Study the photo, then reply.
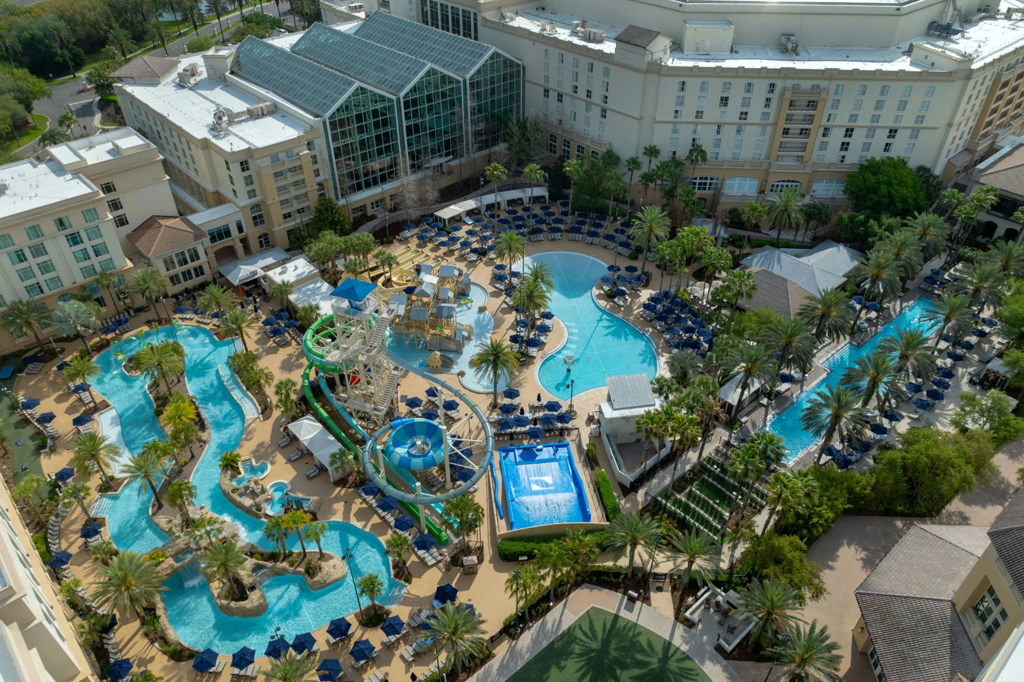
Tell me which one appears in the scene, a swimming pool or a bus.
swimming pool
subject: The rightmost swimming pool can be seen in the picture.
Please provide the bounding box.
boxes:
[770,297,943,465]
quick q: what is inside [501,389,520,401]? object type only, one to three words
umbrella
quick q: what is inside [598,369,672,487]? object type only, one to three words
building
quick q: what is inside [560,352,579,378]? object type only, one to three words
fountain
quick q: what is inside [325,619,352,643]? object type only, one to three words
umbrella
